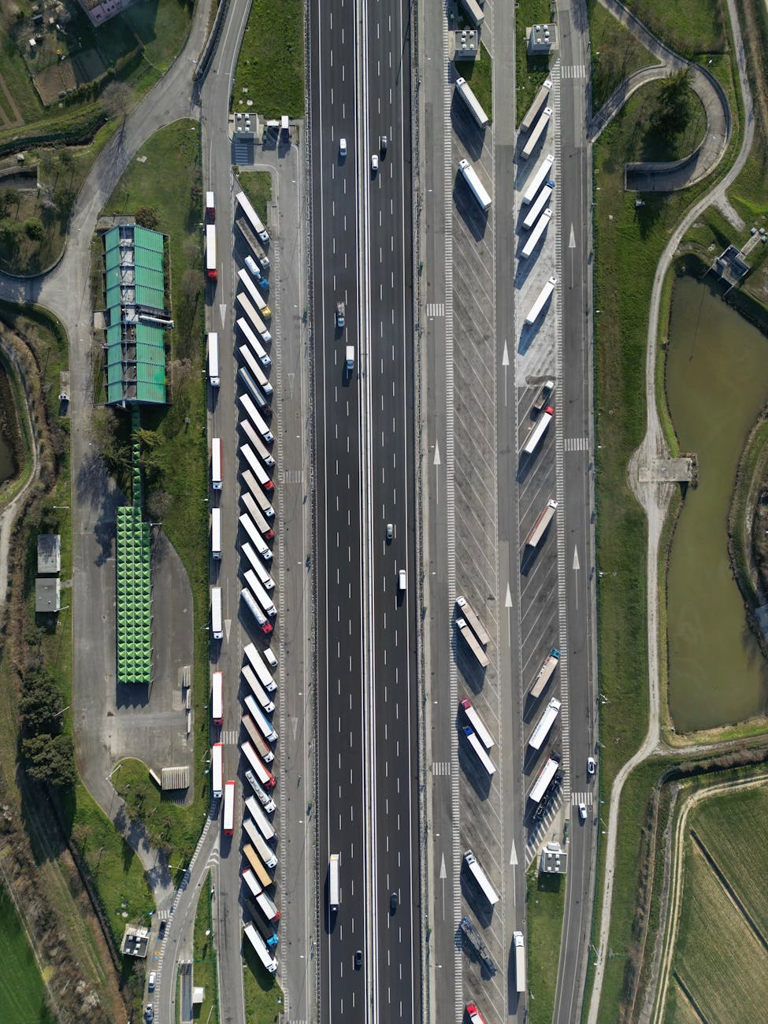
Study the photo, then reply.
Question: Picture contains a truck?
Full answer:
Yes, this view includes a truck.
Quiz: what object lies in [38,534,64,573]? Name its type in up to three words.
shed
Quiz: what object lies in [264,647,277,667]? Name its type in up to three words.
vehicle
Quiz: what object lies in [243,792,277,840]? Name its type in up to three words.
truck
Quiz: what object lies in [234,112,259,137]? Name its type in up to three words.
shed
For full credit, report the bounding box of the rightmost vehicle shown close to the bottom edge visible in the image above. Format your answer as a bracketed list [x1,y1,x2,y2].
[513,926,525,992]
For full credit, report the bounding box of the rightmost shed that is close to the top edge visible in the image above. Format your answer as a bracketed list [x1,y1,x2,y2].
[531,23,556,50]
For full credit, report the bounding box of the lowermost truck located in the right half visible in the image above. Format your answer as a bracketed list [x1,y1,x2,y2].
[466,994,489,1024]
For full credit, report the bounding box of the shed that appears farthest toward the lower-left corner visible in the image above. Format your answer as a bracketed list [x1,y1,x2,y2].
[123,919,153,957]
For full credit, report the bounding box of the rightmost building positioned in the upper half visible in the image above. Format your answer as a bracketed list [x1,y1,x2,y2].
[702,244,755,294]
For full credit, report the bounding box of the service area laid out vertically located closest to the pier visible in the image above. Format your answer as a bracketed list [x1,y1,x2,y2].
[423,0,594,1024]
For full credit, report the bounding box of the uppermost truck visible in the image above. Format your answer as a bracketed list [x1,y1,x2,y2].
[459,0,484,30]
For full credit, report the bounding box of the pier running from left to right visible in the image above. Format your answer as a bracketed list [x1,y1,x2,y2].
[639,458,692,482]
